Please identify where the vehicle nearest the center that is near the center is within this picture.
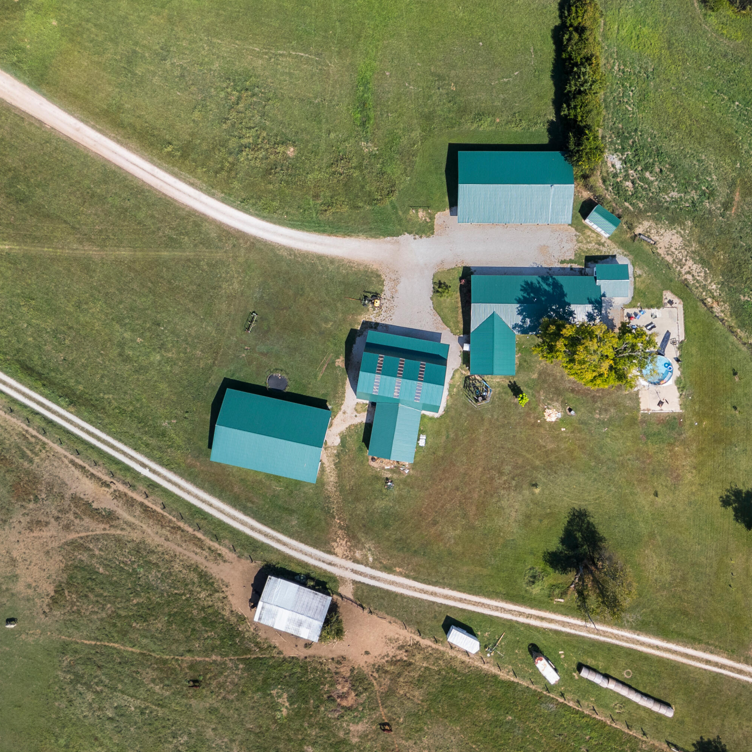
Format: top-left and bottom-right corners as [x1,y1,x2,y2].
[345,296,383,308]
